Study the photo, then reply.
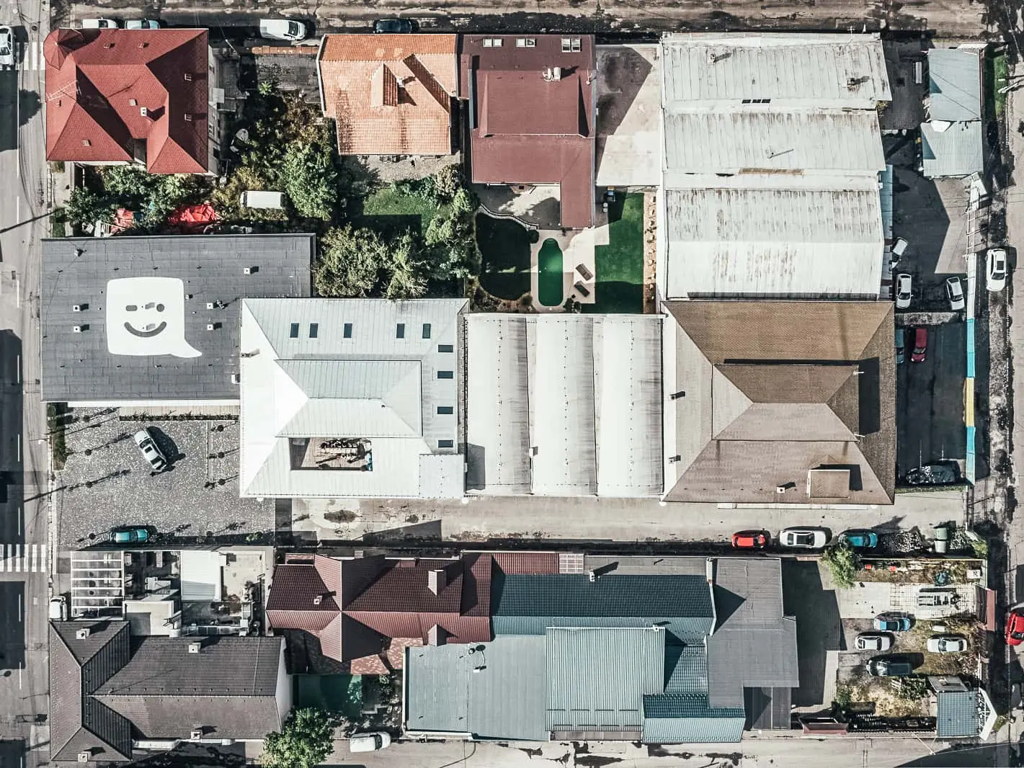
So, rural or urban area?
urban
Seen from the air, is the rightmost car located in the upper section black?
No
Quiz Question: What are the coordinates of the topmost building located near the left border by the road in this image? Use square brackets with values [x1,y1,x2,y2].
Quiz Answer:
[40,26,221,180]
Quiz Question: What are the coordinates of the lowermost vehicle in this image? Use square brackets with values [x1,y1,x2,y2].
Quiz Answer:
[348,732,391,758]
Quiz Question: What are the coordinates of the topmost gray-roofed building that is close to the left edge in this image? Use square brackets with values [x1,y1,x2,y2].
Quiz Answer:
[40,233,323,407]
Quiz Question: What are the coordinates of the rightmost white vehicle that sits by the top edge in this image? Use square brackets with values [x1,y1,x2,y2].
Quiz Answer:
[256,15,303,41]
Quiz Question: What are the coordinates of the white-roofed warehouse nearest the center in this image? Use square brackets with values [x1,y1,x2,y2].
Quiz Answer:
[465,313,663,499]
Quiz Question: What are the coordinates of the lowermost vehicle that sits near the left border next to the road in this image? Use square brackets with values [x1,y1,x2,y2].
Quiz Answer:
[44,597,65,624]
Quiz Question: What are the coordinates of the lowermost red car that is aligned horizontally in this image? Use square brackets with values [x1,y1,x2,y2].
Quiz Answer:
[733,531,770,549]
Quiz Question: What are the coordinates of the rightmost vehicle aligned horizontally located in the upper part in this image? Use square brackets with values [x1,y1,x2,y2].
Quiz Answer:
[371,14,413,33]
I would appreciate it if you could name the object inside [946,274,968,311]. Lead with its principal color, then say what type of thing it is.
white car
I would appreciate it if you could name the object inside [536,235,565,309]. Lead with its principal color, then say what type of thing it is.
green swimming pool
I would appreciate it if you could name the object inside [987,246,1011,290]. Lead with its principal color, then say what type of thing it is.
white car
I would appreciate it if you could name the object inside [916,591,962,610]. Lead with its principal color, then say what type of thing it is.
white trailer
